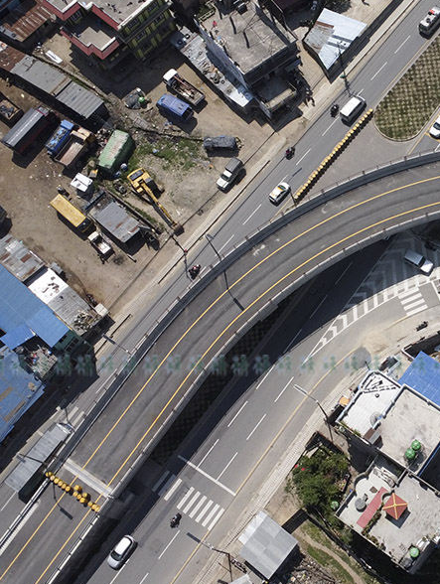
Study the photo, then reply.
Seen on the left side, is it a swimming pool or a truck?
truck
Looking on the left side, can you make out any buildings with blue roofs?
Yes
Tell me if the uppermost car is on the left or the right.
right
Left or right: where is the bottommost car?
left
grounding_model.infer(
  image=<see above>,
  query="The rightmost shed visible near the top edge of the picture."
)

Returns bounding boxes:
[305,9,367,79]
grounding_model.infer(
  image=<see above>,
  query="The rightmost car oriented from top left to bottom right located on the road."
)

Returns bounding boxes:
[402,250,434,276]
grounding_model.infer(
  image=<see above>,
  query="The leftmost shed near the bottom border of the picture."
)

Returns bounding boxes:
[240,511,301,578]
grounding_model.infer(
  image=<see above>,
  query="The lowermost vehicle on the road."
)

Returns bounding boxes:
[108,534,139,569]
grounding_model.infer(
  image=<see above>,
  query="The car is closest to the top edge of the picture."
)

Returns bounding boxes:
[418,9,440,37]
